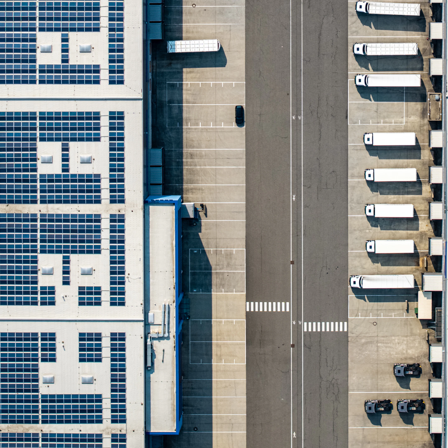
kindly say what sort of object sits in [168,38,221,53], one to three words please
trailer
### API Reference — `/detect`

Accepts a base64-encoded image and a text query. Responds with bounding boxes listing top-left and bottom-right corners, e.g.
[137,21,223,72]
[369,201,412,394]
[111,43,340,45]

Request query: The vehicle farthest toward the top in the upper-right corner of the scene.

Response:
[355,0,420,16]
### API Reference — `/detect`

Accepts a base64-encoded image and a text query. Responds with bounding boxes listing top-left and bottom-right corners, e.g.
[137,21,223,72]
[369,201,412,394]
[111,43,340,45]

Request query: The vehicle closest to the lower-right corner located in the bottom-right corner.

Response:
[397,397,423,413]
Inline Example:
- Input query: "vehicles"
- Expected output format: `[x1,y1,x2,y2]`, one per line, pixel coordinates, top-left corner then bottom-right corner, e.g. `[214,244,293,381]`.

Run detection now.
[348,274,414,288]
[362,131,416,145]
[397,397,423,413]
[353,41,418,55]
[364,239,414,253]
[363,168,417,180]
[394,362,419,377]
[354,73,421,87]
[234,106,244,124]
[355,0,420,16]
[364,202,414,217]
[365,398,391,414]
